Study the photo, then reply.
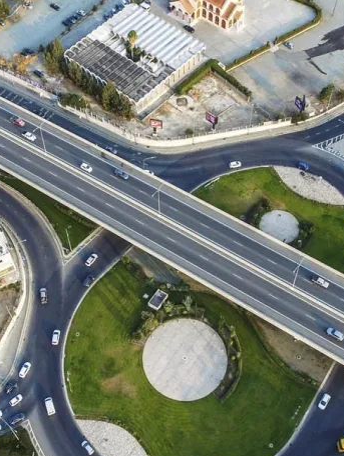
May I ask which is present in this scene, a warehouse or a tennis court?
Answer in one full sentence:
It is a warehouse that can be seen here.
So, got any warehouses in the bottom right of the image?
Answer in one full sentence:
No, I see no warehouse in the bottom right of the image.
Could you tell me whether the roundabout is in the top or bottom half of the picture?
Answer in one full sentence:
The roundabout sits in the bottom half of the picture.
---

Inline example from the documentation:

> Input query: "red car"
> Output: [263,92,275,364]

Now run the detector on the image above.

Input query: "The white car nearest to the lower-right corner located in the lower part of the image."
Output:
[317,393,330,409]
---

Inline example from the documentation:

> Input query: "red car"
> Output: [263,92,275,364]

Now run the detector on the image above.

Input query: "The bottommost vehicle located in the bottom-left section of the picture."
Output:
[80,438,94,455]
